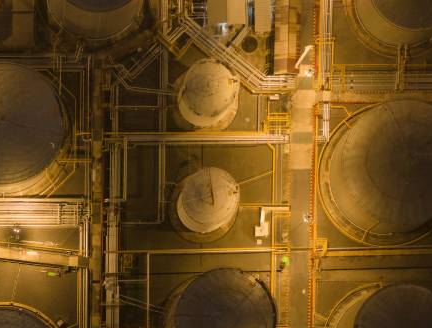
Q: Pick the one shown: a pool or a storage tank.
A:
storage tank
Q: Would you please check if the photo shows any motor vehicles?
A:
No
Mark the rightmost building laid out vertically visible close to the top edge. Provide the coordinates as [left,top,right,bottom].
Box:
[271,0,300,79]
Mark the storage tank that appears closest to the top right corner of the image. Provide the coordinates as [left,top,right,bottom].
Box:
[345,0,432,59]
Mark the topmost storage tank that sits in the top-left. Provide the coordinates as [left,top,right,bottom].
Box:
[46,0,146,42]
